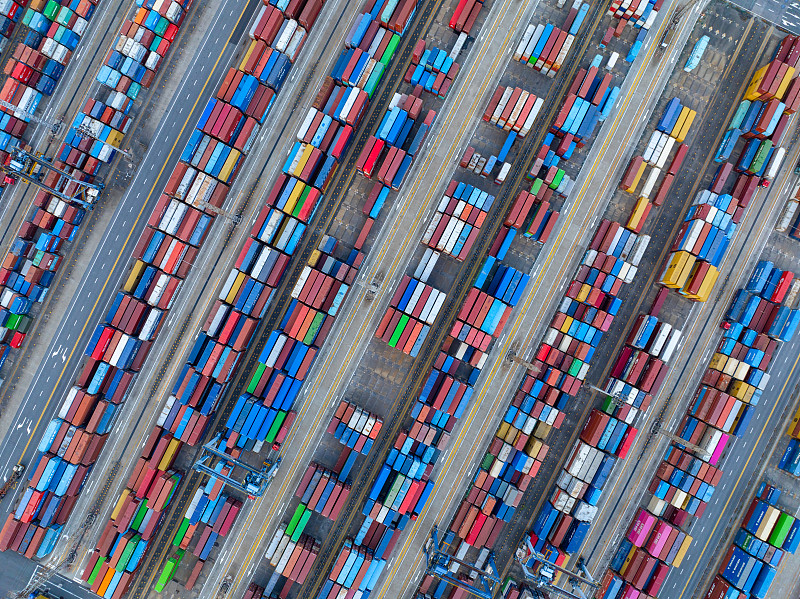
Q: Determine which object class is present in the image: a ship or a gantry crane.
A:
gantry crane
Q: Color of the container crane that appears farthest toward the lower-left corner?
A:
blue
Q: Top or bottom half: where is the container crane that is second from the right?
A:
bottom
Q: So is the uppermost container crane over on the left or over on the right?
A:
left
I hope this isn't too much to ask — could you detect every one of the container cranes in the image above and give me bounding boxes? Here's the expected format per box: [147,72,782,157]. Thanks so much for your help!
[420,517,504,599]
[511,525,605,599]
[0,140,108,215]
[187,421,284,501]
